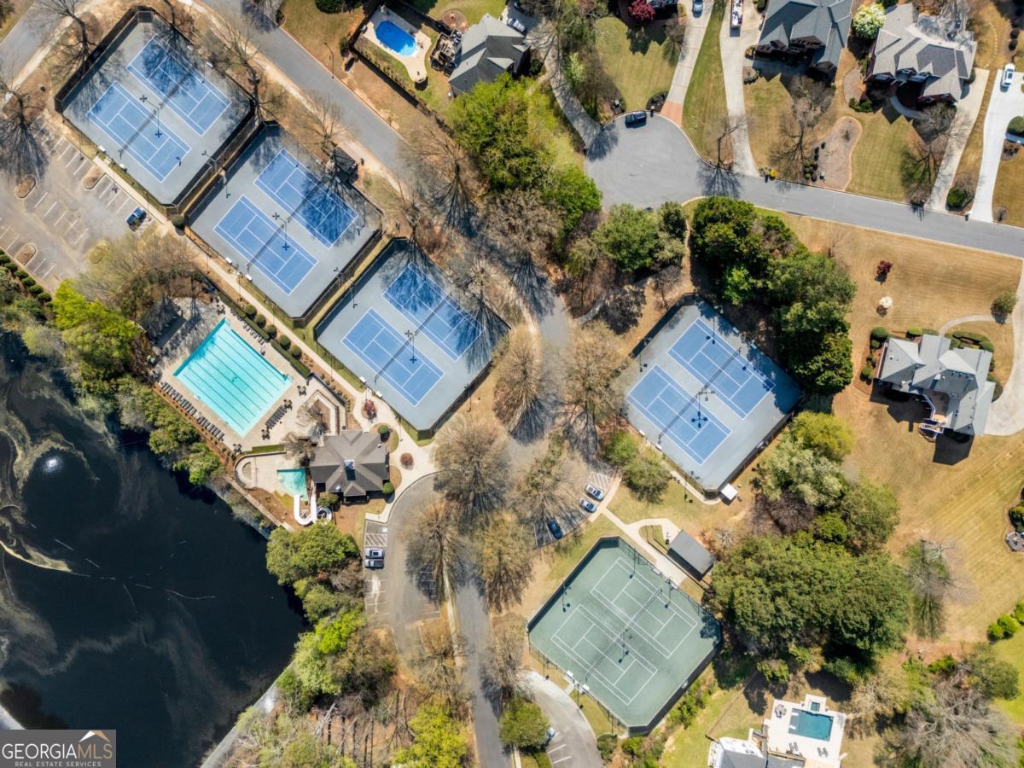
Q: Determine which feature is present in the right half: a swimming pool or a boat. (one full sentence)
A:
It is a swimming pool that can be seen in the right half.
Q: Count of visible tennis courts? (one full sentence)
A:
Looking from above, you can make out 10 tennis courts.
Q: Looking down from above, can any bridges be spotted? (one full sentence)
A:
No, no bridge can be seen from above.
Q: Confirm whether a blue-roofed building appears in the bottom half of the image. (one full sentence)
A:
No, looking in the bottom half of the image, there is no blue-roofed building.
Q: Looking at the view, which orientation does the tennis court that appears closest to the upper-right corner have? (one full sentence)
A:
In this picture, the tennis court that appears closest to the upper-right corner is oriented diagonally.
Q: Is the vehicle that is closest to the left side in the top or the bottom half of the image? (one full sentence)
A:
The vehicle that is closest to the left side sits in the top half of the picture.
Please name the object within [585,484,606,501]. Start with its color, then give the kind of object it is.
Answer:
white car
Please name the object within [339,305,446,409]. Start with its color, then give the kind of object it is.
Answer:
blue tennis court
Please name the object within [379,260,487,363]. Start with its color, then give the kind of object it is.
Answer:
blue tennis court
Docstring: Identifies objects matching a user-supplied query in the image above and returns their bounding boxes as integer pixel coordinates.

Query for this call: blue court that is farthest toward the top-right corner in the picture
[668,318,775,420]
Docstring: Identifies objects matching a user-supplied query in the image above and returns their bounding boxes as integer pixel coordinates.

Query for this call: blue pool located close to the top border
[375,20,416,56]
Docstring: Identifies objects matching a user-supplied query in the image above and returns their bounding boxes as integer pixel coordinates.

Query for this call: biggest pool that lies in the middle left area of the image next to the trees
[173,318,292,437]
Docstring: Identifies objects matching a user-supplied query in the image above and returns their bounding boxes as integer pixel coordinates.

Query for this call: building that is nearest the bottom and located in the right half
[707,729,804,768]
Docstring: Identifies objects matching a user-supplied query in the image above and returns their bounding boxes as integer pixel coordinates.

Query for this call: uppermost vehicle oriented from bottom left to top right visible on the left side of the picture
[123,206,145,228]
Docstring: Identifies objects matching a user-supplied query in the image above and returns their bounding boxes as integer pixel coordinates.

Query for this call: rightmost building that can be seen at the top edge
[862,3,977,107]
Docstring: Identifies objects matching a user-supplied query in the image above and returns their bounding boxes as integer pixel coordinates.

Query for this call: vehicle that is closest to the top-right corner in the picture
[1003,64,1018,86]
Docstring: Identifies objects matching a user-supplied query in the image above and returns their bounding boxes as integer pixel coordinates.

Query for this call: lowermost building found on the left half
[306,430,389,503]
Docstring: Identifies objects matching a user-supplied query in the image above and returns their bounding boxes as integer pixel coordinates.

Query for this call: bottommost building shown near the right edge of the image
[871,335,995,436]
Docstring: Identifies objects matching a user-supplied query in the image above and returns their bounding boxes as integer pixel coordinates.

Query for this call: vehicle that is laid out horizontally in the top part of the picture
[625,112,647,124]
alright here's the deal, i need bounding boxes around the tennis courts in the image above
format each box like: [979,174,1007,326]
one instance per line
[339,305,446,409]
[590,557,698,658]
[625,363,732,465]
[252,147,359,250]
[85,80,192,182]
[668,318,775,420]
[379,260,487,363]
[212,193,319,296]
[550,604,658,705]
[125,34,232,136]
